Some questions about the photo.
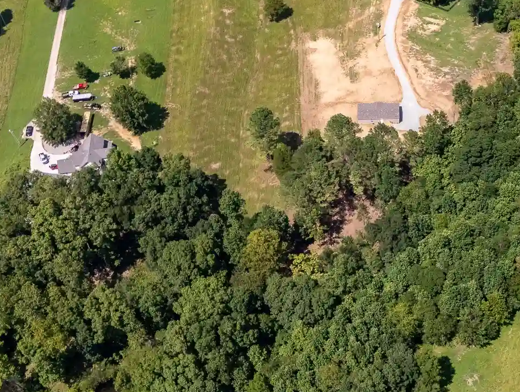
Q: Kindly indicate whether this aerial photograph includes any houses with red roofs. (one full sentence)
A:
No, there appears to be no house with a red roof in this shot.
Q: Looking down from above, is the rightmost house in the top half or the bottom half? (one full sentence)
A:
It is in the top half that the rightmost house appears.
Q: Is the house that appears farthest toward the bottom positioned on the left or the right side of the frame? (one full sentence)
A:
The house that appears farthest toward the bottom is on the left side of the image.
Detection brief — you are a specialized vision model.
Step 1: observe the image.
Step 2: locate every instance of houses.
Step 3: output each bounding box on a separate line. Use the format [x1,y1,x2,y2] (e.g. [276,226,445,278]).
[358,100,399,127]
[57,136,111,177]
